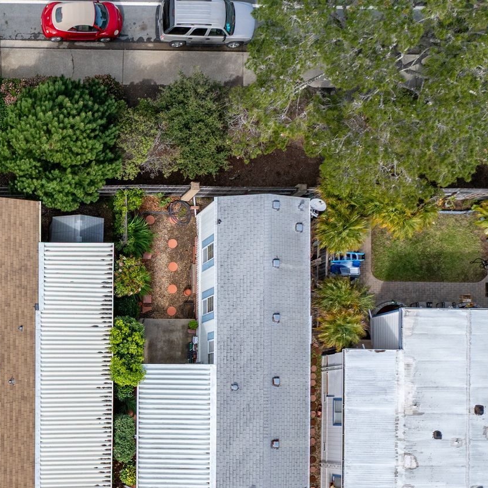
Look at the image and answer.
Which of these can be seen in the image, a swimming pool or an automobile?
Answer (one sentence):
I can see an automobile in this picture.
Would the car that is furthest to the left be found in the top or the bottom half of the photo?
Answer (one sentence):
The car that is furthest to the left sits in the top half of the picture.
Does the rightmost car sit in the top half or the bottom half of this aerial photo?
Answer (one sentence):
The rightmost car is in the top half of the image.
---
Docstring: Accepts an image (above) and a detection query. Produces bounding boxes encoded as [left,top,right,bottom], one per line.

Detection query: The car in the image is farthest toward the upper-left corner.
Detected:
[40,0,122,43]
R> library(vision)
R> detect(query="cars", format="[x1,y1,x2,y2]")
[40,0,122,43]
[152,0,255,47]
